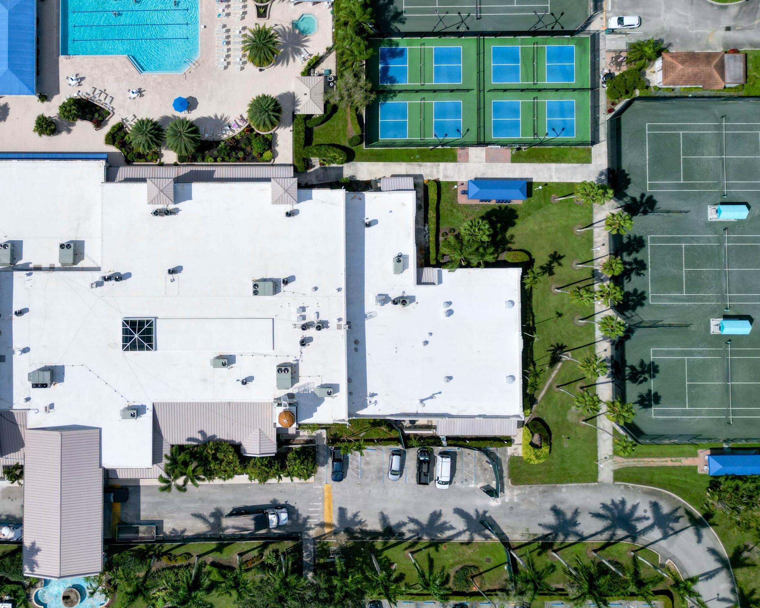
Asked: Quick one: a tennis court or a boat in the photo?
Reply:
tennis court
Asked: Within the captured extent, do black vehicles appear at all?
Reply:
Yes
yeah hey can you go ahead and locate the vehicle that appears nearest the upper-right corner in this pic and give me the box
[611,13,643,28]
